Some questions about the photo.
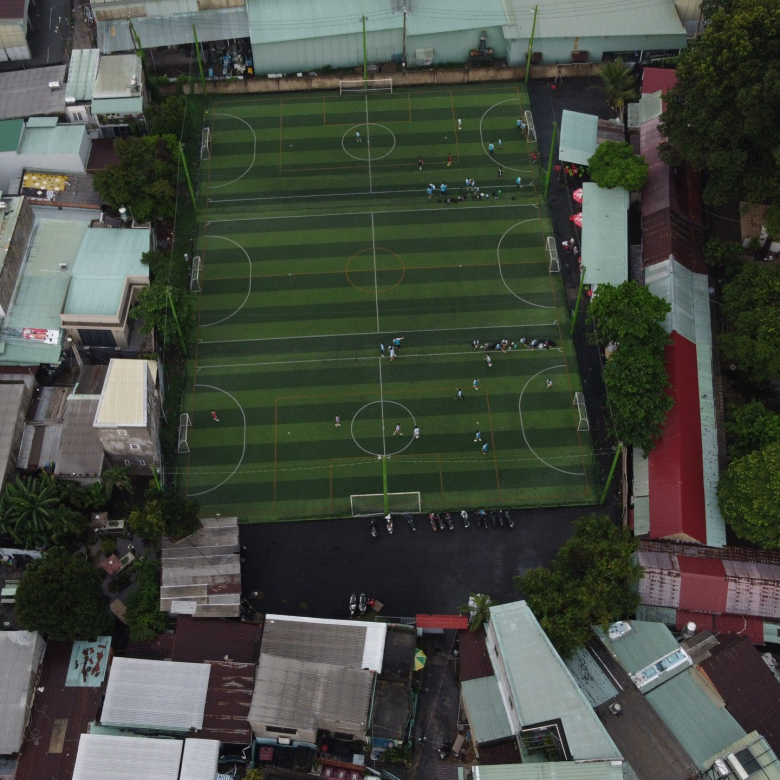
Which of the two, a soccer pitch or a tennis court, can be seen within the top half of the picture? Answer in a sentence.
Looking within the top half of the picture, you will find a soccer pitch.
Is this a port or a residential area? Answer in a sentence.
This image shows a residential area.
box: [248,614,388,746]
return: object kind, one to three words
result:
house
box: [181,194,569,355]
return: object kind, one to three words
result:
soccer field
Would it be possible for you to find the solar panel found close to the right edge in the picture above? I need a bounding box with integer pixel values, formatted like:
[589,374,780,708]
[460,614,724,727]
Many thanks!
[734,748,761,776]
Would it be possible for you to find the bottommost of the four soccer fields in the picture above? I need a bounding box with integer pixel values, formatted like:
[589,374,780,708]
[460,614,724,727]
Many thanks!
[169,335,599,520]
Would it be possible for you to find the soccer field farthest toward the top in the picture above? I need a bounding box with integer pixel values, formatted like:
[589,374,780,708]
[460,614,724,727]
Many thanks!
[193,80,544,212]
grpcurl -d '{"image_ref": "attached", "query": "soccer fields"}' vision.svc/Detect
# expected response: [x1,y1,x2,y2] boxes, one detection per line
[181,194,569,355]
[193,80,544,212]
[187,88,587,513]
[169,335,599,520]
